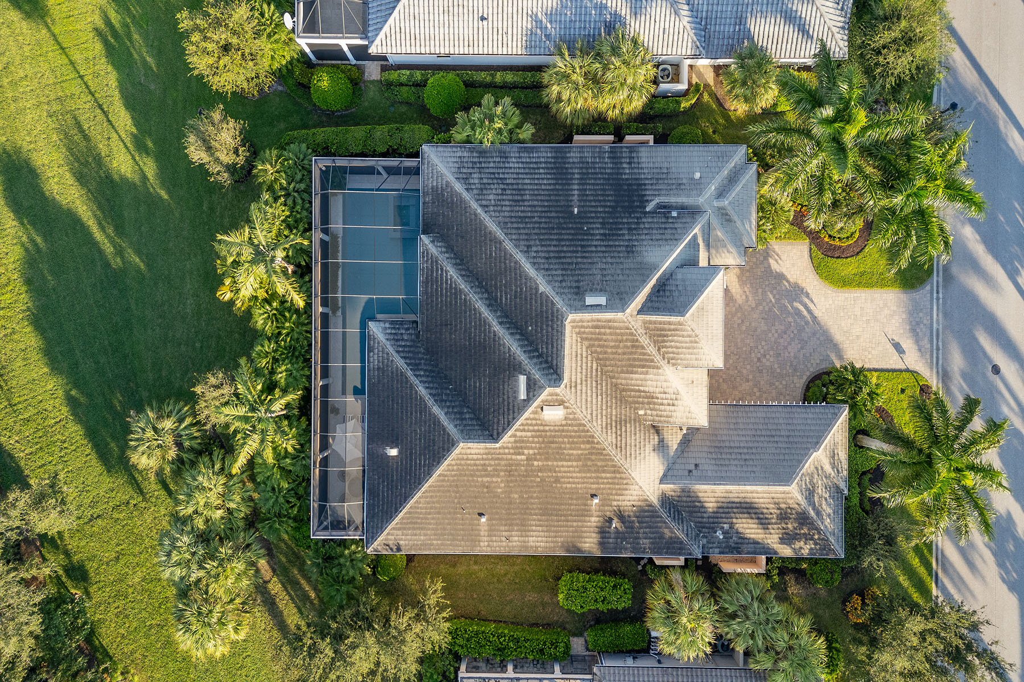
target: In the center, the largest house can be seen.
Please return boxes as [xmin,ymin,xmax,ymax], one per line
[365,143,850,559]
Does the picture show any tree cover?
Yes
